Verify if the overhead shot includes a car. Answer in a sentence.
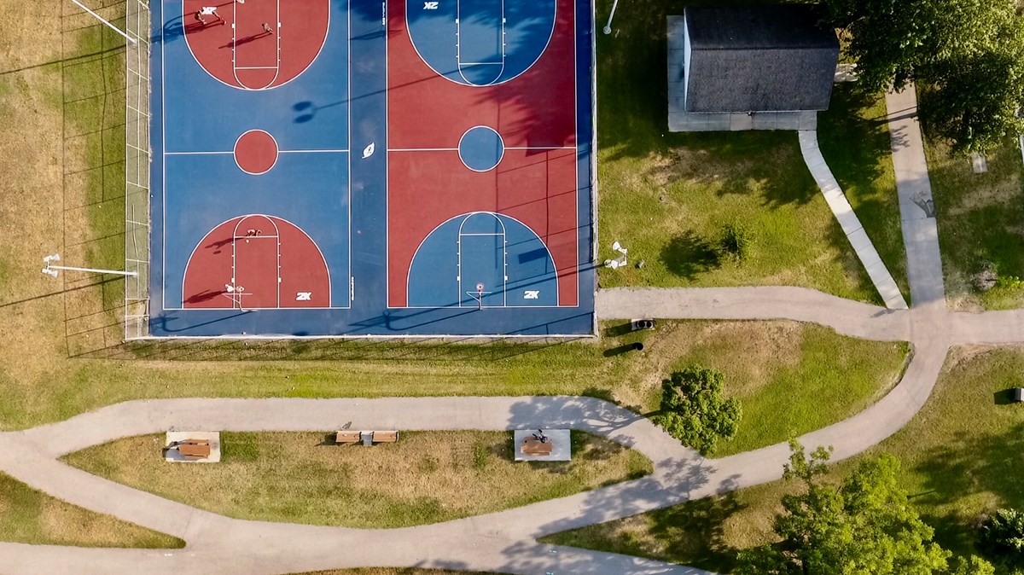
No, the picture doesn't show any car.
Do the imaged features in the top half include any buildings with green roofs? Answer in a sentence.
No, the scene shows no building with a green roof in the top half.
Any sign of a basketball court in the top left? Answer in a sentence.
Yes, a basketball court is visible in the top left.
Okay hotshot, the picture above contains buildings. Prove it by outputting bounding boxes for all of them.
[678,6,839,120]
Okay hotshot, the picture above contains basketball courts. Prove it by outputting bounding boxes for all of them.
[162,0,354,311]
[382,0,578,309]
